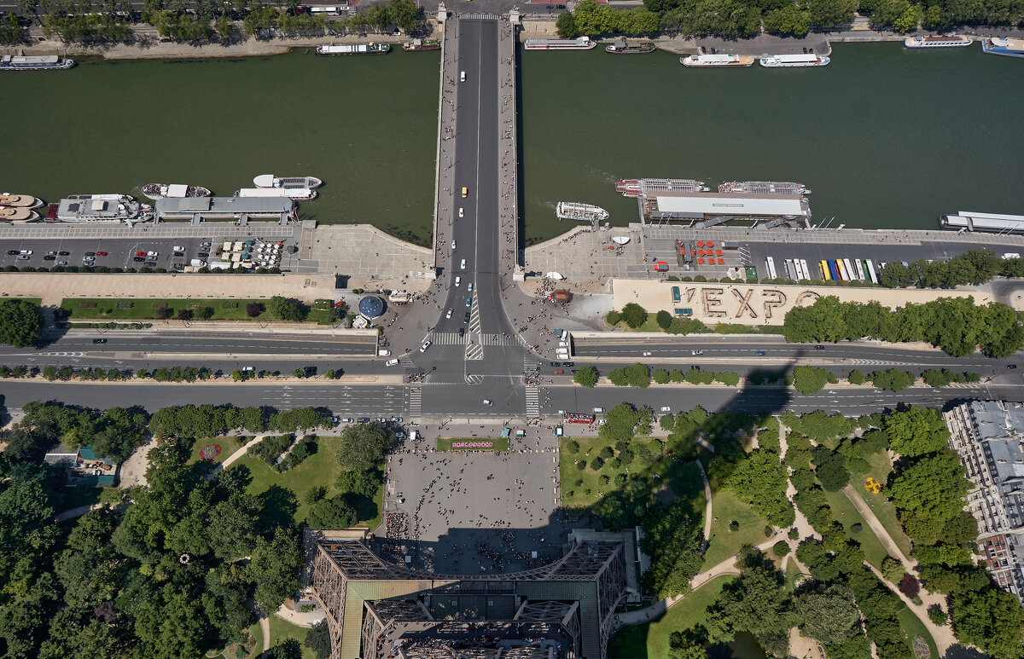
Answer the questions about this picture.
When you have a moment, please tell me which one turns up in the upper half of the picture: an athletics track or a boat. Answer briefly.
boat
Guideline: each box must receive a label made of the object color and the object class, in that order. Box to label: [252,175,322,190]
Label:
white boat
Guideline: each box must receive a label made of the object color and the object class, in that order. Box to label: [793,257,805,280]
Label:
white vehicle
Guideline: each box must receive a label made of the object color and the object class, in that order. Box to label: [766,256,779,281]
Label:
white vehicle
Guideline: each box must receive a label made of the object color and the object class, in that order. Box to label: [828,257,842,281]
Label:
blue vehicle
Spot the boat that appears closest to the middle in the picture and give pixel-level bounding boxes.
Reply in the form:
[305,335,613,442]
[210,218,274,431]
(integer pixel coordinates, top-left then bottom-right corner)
[556,202,610,222]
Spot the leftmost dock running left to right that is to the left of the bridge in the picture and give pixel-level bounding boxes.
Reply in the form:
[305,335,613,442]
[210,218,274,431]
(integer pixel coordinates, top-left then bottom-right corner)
[147,200,294,229]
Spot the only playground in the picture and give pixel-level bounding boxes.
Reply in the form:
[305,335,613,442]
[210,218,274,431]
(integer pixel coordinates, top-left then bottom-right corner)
[787,627,825,659]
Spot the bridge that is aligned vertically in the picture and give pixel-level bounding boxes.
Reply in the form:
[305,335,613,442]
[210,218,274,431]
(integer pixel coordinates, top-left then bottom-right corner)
[433,19,523,272]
